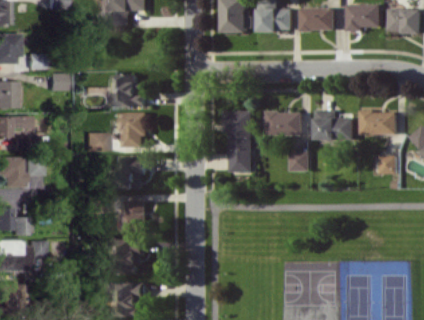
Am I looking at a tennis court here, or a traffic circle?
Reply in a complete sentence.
The image shows a tennis court.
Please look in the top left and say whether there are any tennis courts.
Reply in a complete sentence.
No, there is no tennis court in the top left.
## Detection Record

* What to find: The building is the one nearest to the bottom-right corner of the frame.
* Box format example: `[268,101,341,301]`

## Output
[373,156,398,175]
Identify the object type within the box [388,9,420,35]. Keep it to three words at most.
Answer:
house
